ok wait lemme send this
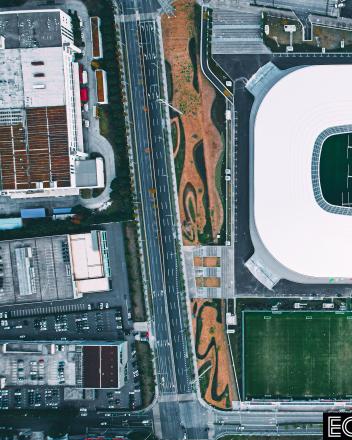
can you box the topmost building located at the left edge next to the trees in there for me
[0,9,88,198]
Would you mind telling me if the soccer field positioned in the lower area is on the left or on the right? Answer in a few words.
right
